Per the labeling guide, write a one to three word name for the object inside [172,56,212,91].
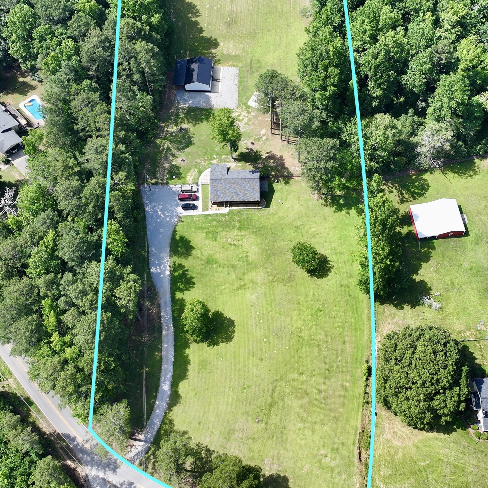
building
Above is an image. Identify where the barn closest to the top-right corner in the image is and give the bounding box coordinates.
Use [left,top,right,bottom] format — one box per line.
[408,199,466,245]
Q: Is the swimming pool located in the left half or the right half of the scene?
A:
left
